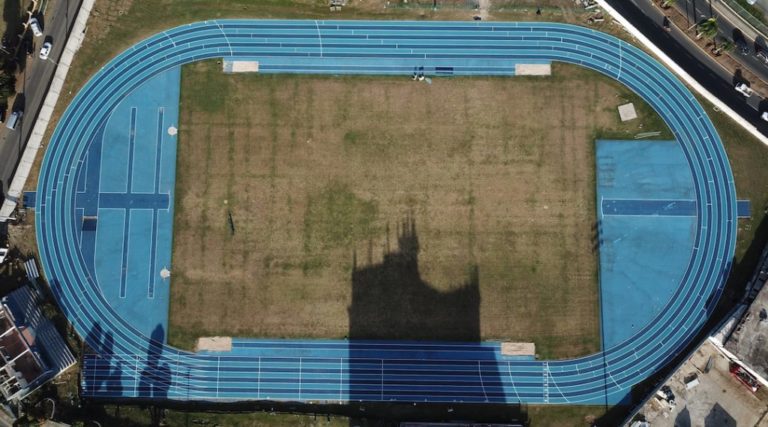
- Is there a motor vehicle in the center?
No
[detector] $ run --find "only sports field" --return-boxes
[167,58,678,361]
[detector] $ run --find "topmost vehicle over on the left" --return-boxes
[30,17,42,37]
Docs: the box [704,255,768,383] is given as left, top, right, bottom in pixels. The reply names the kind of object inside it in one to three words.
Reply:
building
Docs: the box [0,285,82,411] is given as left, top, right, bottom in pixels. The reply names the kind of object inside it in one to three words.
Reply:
building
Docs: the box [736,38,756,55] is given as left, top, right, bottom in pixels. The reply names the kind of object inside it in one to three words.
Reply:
car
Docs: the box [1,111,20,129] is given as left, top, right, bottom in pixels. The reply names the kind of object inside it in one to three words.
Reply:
vehicle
